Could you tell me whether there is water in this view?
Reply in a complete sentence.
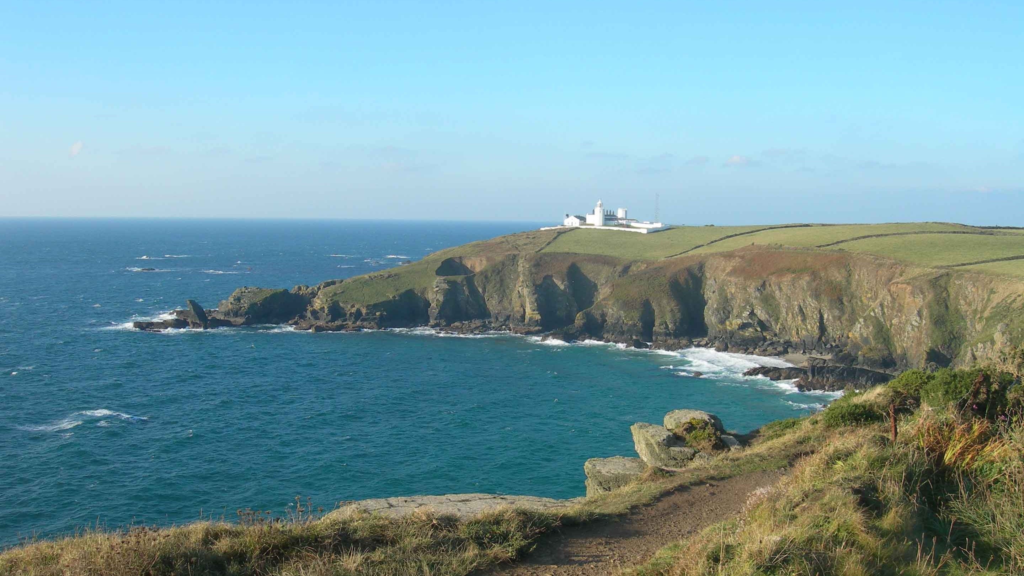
Yes, water can be seen from above here.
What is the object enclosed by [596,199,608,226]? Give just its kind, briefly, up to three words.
lighthouse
